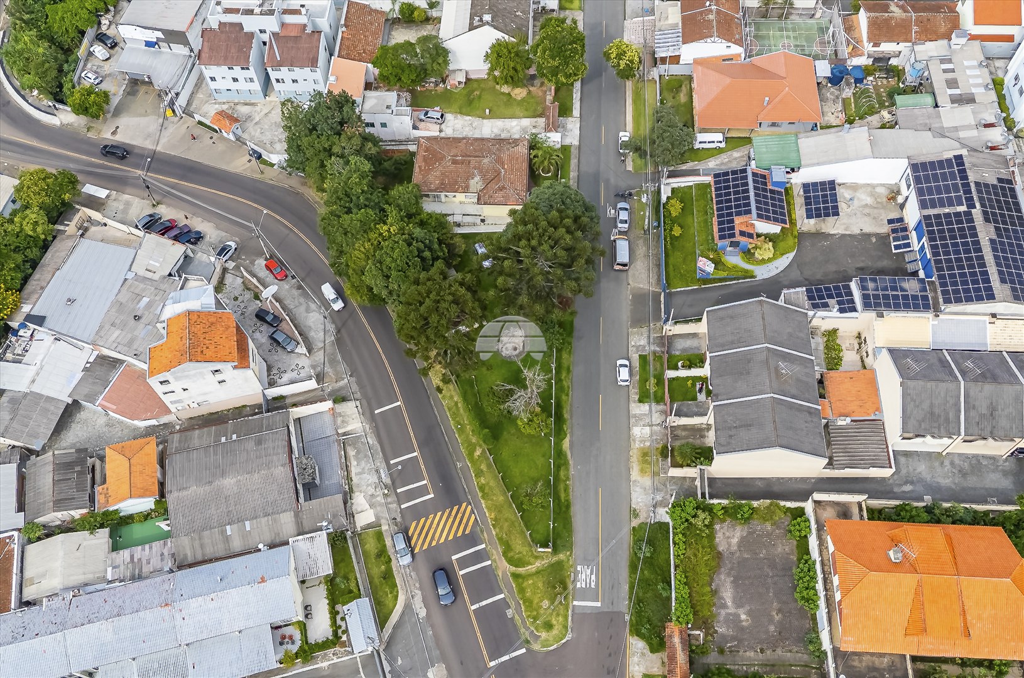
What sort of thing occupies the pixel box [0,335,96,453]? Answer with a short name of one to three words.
building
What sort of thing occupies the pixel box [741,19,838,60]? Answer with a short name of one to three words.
sports court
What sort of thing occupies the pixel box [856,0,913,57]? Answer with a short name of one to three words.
house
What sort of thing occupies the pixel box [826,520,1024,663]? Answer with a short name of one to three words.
house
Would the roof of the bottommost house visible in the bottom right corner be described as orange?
Yes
